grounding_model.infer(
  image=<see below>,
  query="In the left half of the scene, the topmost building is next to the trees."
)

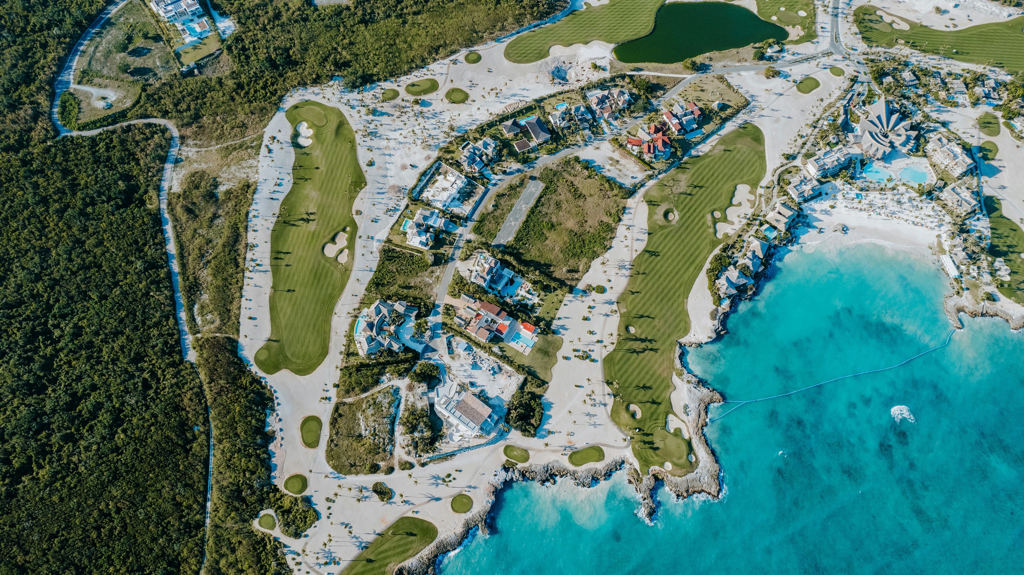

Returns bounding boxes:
[150,0,211,52]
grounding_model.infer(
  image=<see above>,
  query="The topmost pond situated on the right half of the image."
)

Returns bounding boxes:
[614,2,787,63]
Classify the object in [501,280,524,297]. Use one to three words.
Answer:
swimming pool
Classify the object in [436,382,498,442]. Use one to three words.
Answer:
house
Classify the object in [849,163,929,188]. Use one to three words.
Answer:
swimming pool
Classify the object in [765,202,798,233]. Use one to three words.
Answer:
building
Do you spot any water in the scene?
Yes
